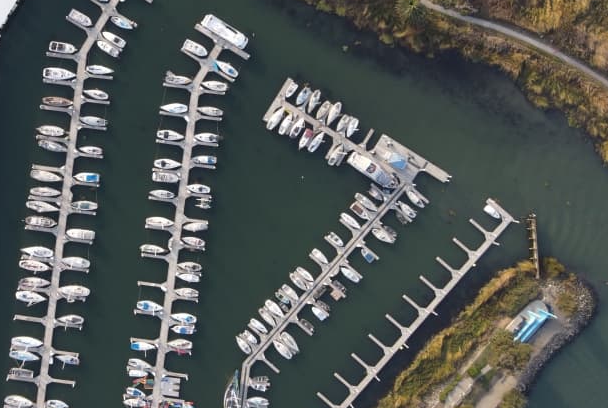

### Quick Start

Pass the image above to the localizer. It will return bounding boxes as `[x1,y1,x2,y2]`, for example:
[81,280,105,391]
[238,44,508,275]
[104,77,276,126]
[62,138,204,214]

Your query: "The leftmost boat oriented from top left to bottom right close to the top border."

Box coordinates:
[67,7,91,24]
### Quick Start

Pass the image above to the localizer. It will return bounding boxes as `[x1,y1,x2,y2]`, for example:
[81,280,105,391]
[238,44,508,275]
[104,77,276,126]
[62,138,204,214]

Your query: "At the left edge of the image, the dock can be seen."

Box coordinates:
[3,0,153,408]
